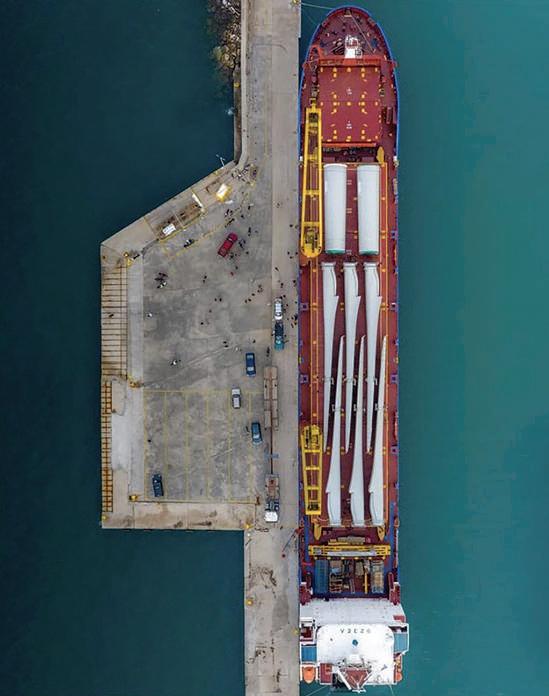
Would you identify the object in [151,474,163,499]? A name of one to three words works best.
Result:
vehicle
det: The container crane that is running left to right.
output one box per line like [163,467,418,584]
[308,538,390,560]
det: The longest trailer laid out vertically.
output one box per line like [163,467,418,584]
[264,366,280,526]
